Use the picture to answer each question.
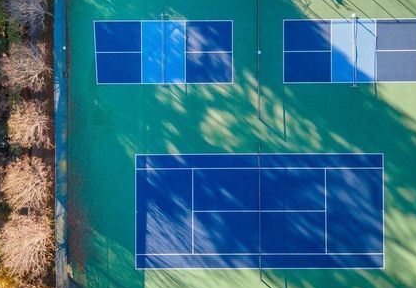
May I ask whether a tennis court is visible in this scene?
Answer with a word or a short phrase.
Yes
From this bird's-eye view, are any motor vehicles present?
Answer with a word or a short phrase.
No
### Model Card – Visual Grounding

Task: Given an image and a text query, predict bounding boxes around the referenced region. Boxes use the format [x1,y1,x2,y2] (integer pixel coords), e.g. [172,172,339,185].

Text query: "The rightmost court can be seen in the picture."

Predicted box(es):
[283,19,416,82]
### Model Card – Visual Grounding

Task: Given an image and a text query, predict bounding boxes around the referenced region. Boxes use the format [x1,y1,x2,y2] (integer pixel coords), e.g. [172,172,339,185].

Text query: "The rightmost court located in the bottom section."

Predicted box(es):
[135,153,385,271]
